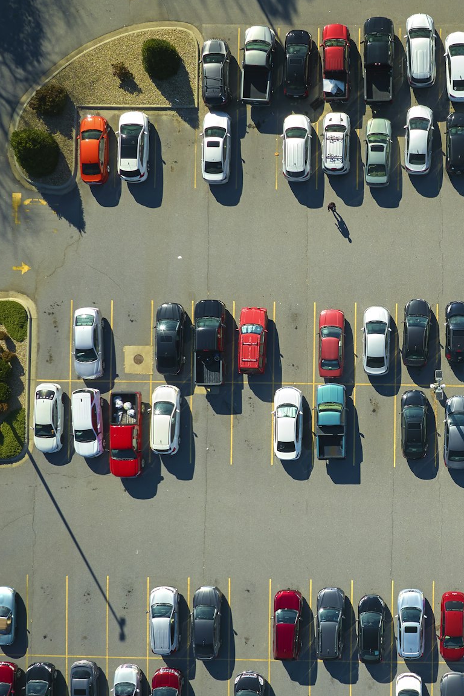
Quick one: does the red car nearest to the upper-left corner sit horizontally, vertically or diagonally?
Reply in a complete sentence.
What the image shows is the red car nearest to the upper-left corner lying vertically.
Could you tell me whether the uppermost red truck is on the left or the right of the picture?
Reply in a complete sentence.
The uppermost red truck appears in the right half of the scene.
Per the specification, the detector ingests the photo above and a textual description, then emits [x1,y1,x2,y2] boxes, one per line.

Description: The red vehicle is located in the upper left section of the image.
[76,116,109,184]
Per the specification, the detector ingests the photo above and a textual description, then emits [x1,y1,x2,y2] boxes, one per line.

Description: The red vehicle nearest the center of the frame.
[236,307,268,373]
